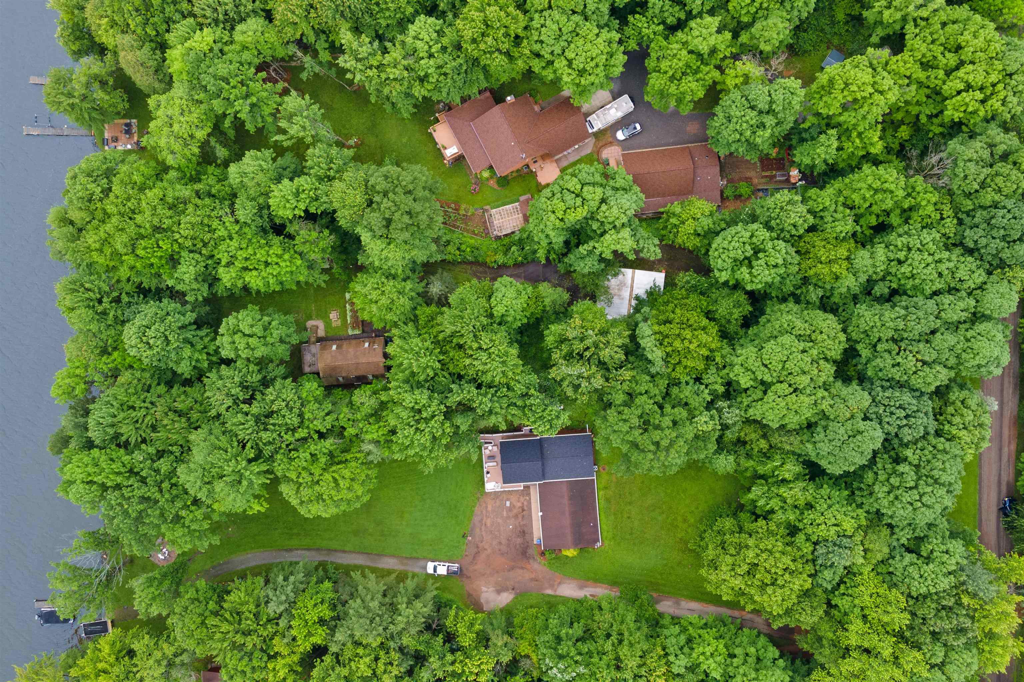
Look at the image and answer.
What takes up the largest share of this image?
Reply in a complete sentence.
Most of the picture is covered by trees.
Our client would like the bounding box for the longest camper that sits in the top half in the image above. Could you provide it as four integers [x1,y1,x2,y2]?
[586,95,636,134]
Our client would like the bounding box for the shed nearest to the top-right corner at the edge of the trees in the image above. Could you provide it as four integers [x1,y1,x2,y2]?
[818,52,845,77]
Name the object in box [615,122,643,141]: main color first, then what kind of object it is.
white car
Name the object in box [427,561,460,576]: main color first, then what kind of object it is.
white vehicle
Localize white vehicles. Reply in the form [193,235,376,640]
[615,122,643,141]
[586,95,636,134]
[427,561,460,576]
